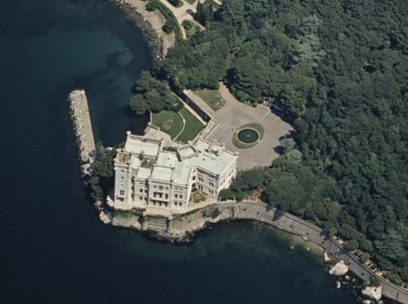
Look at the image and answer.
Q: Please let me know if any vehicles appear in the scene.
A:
No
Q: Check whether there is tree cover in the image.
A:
Yes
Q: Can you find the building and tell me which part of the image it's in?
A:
center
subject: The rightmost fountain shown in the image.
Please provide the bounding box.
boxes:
[237,126,260,143]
